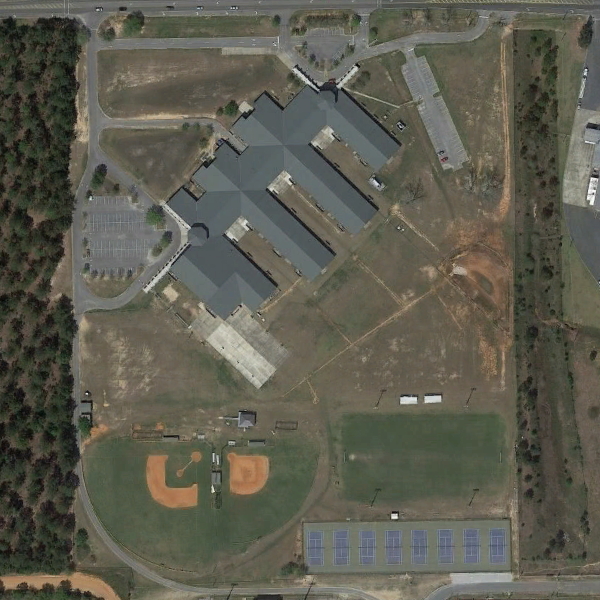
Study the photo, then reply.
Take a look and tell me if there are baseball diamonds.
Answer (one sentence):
Yes, the image includes a baseball diamond.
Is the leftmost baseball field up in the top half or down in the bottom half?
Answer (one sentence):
The leftmost baseball field is in the bottom half of the image.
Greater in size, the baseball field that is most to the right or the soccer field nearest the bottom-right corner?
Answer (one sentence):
Of the two, the soccer field is bigger, while the baseball field is smaller.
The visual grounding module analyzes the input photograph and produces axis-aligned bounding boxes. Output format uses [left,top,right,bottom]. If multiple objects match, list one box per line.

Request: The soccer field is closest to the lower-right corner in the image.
[342,415,506,504]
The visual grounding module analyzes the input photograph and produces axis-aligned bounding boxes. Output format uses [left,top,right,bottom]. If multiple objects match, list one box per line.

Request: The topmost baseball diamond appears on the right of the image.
[448,246,506,320]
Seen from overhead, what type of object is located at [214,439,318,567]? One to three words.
baseball field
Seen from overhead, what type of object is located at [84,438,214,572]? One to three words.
baseball field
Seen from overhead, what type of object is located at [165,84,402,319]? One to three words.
building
